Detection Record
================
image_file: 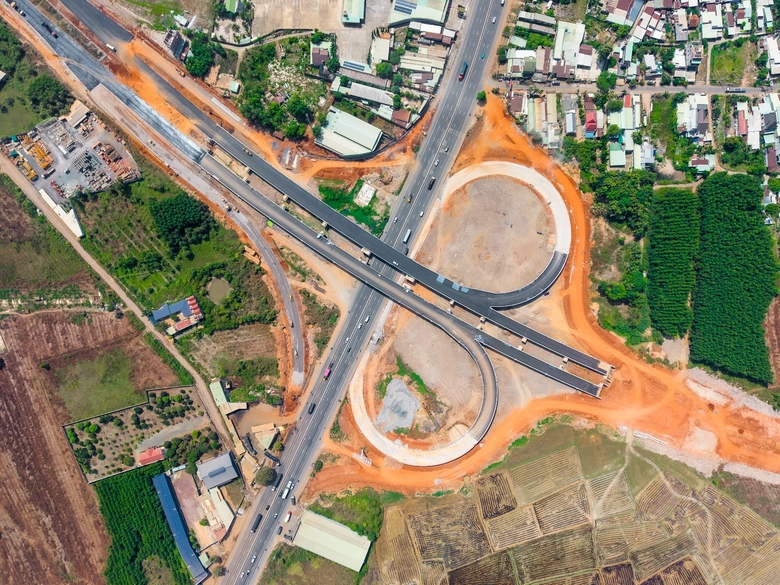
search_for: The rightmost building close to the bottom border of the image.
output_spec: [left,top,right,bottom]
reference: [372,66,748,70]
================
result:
[293,507,372,571]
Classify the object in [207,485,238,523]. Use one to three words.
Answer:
shed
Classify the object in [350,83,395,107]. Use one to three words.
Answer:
building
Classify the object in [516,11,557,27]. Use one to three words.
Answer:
house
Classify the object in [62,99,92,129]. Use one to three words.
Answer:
building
